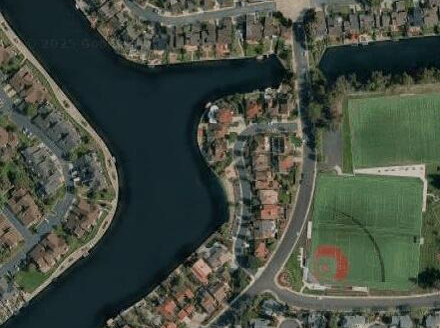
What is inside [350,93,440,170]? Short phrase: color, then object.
green soccer field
